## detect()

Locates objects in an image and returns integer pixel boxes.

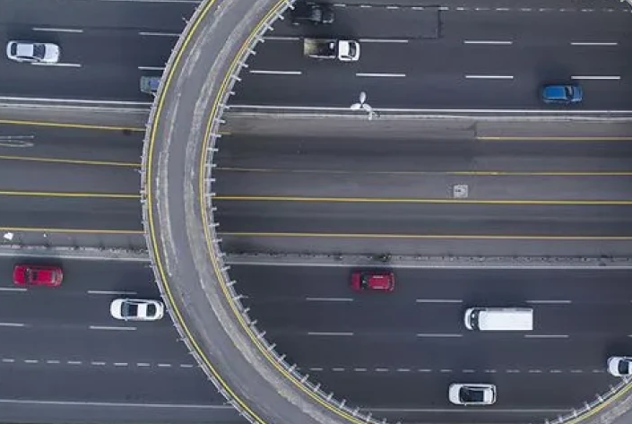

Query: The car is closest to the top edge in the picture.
[286,0,336,25]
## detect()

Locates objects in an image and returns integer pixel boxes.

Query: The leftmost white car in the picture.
[6,39,62,64]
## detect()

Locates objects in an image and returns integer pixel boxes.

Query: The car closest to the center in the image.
[351,269,396,294]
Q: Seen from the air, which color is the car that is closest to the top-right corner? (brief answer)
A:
blue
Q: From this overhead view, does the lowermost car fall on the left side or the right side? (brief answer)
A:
right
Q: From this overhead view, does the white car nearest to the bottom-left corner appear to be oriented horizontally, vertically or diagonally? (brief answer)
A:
horizontally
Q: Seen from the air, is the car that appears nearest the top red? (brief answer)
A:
No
